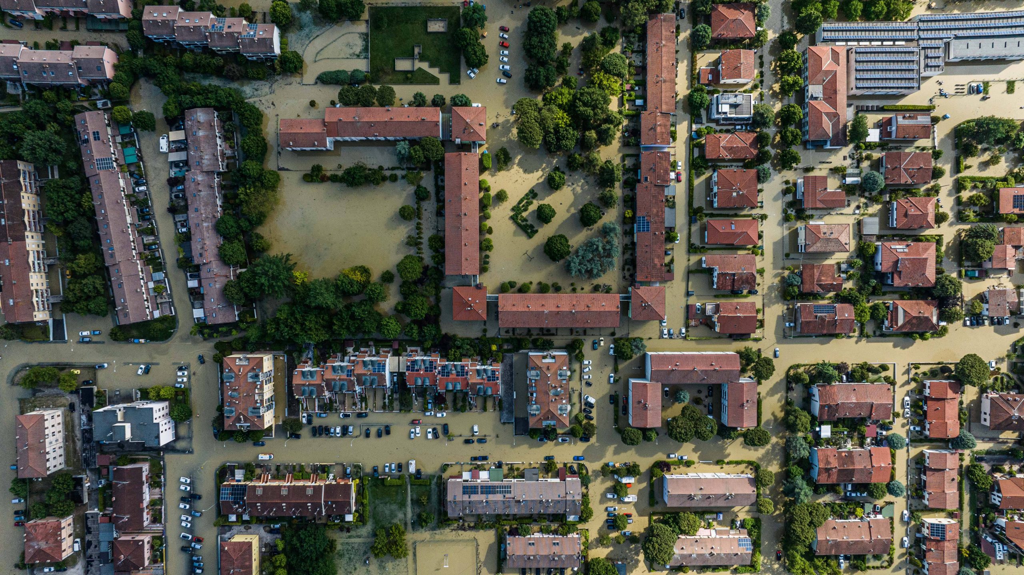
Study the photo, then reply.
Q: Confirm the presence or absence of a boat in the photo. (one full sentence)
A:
No, the frame has no boat in it.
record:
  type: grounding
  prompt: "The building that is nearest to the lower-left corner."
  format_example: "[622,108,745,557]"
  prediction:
[23,516,75,564]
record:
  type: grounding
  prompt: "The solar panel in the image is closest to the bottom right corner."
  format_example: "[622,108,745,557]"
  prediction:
[928,522,947,540]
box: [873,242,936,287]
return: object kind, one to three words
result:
house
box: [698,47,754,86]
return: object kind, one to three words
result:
house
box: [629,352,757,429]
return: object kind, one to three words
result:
building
